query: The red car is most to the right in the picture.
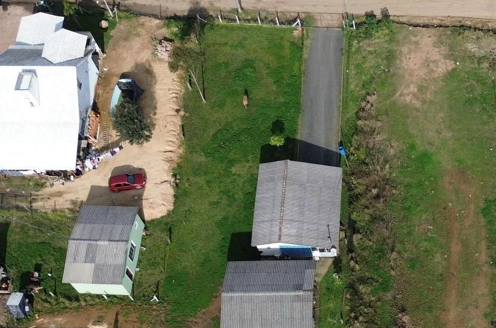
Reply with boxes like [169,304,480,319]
[105,173,145,193]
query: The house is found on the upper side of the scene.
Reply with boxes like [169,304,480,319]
[0,12,106,180]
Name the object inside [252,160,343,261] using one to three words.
house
